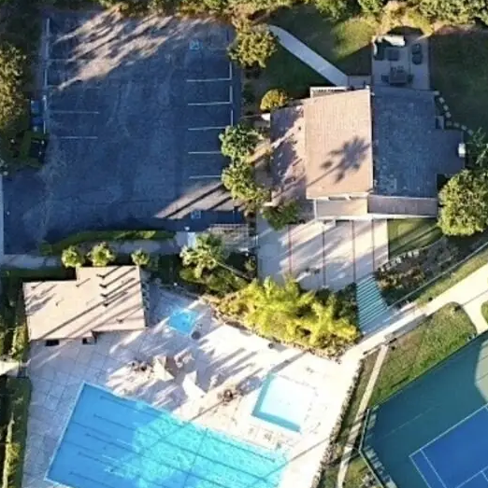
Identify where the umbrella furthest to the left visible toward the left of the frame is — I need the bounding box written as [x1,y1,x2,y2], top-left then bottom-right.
[152,350,184,383]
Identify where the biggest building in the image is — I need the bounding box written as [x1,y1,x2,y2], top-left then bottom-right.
[271,87,465,227]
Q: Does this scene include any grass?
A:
Yes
